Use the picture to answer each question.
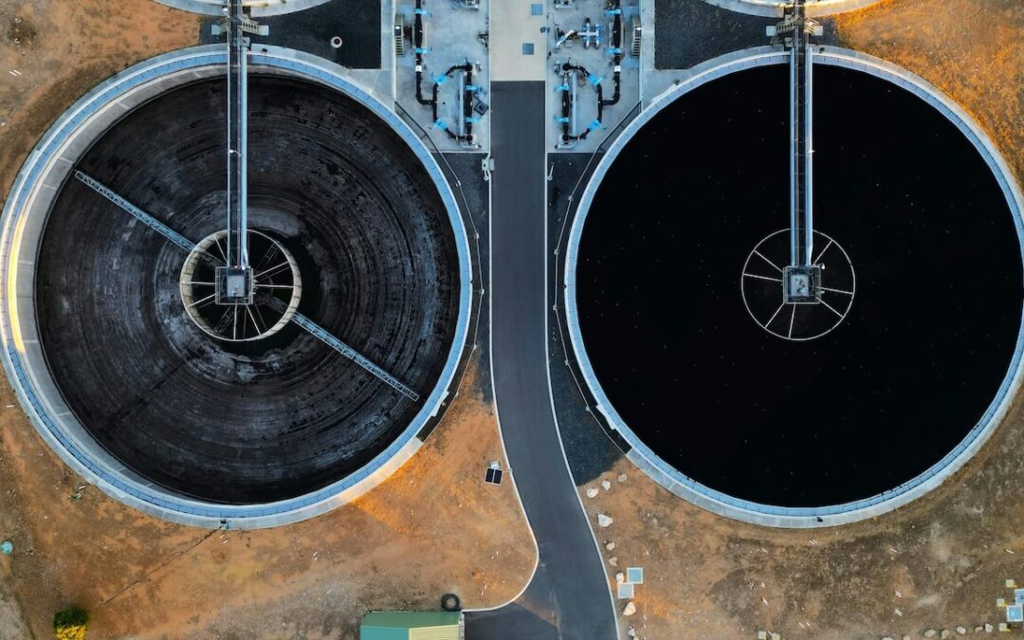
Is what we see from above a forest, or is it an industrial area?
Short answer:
industrial area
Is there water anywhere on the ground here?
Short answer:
Yes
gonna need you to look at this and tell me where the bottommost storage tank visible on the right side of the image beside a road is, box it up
[562,49,1024,522]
